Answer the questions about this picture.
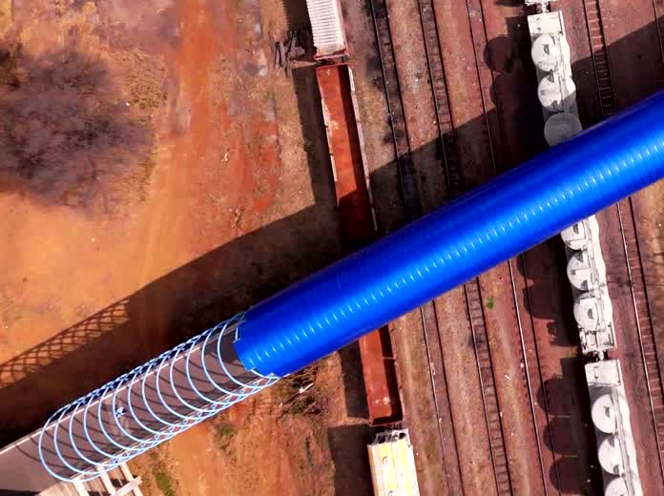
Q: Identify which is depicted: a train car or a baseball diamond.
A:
train car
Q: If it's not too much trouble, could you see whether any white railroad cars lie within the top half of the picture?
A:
Yes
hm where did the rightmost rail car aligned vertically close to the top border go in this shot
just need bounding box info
[528,5,583,150]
